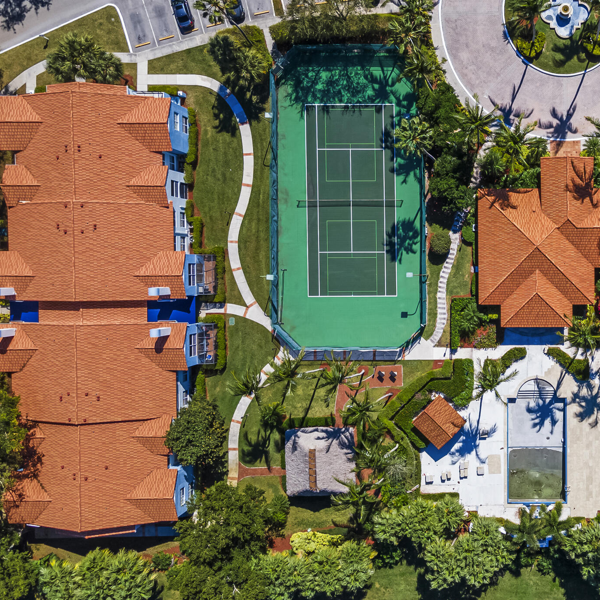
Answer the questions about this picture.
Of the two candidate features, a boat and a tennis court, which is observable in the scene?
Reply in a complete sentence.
Looking from above, you can make out a tennis court.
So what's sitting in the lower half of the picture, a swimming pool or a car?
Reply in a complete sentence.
You can see a swimming pool in the lower half of the picture.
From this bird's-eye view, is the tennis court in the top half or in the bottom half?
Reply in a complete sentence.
The top half of the photo is where the tennis court is.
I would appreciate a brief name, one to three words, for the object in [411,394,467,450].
building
